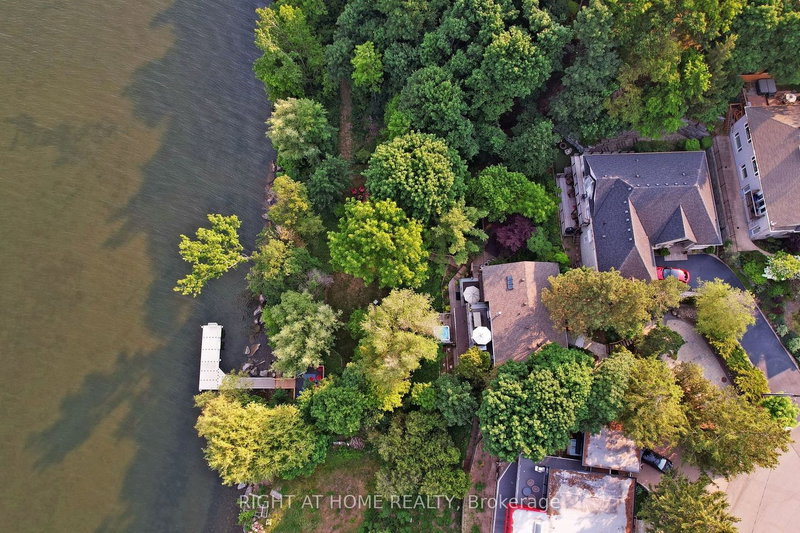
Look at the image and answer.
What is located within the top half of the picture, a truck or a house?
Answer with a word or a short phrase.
house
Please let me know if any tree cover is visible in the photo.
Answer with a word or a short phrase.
Yes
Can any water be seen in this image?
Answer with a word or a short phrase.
Yes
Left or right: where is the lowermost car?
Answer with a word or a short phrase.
right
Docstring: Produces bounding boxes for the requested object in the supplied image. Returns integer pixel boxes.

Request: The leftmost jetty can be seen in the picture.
[197,321,226,390]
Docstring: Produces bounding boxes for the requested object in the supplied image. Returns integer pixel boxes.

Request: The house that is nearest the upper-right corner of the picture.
[730,106,800,241]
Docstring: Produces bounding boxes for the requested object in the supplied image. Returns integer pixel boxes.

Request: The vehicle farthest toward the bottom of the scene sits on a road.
[641,448,677,476]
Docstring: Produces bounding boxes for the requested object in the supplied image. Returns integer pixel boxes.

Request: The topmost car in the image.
[658,265,692,284]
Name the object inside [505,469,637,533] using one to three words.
house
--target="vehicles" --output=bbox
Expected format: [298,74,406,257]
[658,265,692,284]
[641,448,677,476]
